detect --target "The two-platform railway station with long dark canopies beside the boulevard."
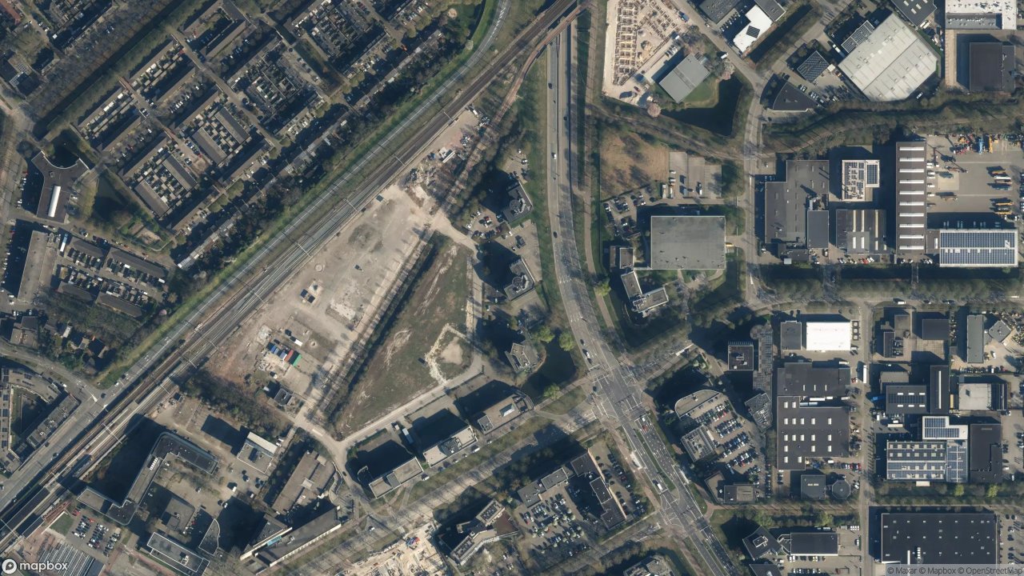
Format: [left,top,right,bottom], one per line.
[0,372,174,557]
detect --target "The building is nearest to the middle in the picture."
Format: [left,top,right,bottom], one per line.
[505,258,536,302]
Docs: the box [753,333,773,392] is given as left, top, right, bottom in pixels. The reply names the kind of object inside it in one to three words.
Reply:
greenhouse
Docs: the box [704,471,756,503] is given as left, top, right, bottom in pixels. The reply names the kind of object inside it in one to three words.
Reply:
building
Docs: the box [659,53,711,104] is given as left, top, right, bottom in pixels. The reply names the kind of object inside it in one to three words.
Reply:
building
